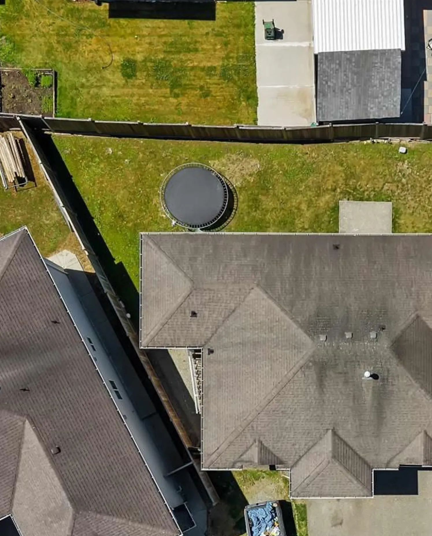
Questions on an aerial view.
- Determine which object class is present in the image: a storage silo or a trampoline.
trampoline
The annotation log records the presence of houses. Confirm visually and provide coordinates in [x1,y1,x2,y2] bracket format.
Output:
[0,224,194,536]
[138,231,432,501]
